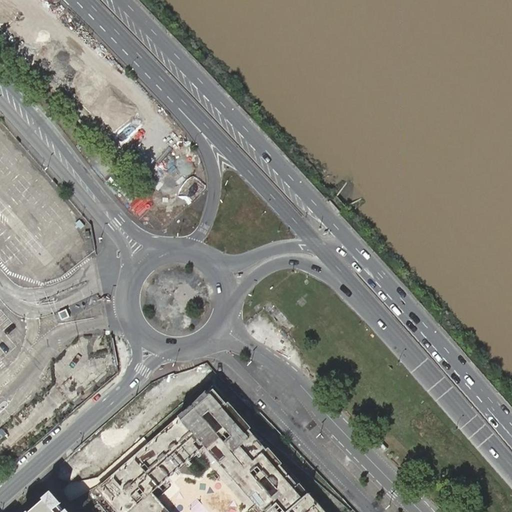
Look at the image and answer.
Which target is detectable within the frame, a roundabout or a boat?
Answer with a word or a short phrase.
roundabout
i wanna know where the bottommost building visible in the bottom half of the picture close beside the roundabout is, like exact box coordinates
[90,389,325,512]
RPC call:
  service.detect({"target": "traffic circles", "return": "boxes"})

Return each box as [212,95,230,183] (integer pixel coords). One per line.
[118,242,234,358]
